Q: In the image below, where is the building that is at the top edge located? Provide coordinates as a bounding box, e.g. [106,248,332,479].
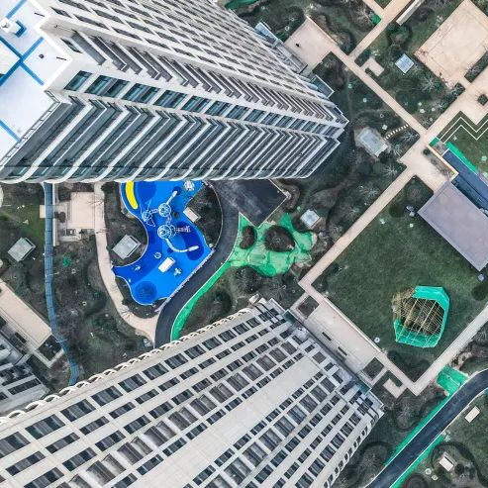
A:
[0,0,345,175]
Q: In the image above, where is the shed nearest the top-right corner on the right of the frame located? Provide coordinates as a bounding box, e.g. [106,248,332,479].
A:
[359,127,391,155]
